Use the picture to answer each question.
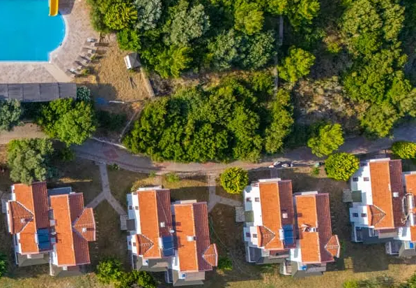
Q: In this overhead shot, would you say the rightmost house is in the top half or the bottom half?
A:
bottom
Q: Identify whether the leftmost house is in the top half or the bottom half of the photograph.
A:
bottom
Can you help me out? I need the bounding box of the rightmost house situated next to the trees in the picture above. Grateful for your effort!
[337,157,416,255]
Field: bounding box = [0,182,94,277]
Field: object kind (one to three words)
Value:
house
